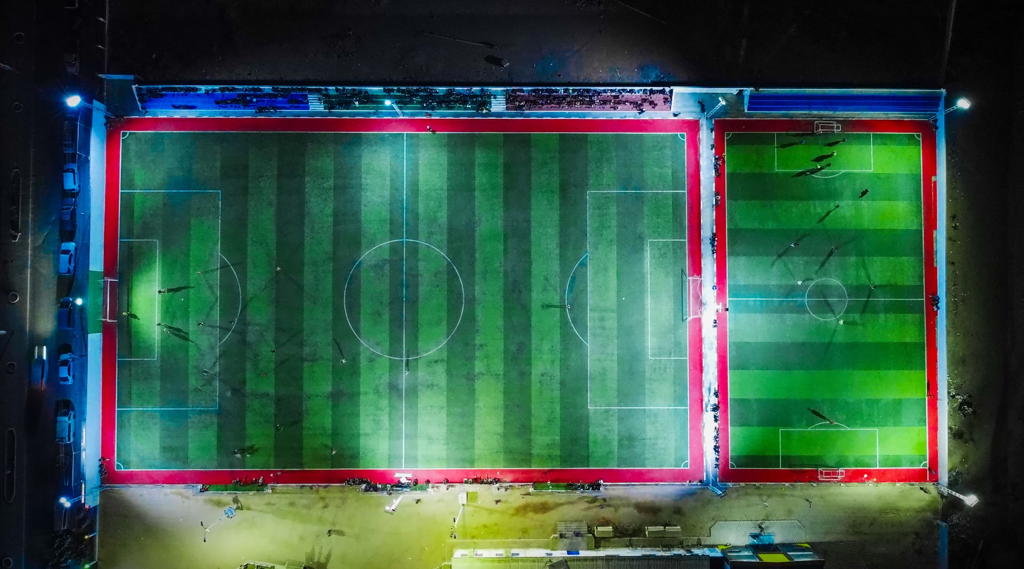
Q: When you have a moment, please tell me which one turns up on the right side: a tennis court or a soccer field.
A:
soccer field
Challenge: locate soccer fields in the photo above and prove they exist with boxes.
[716,119,938,483]
[101,118,703,485]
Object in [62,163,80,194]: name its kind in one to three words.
car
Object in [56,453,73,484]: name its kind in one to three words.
car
